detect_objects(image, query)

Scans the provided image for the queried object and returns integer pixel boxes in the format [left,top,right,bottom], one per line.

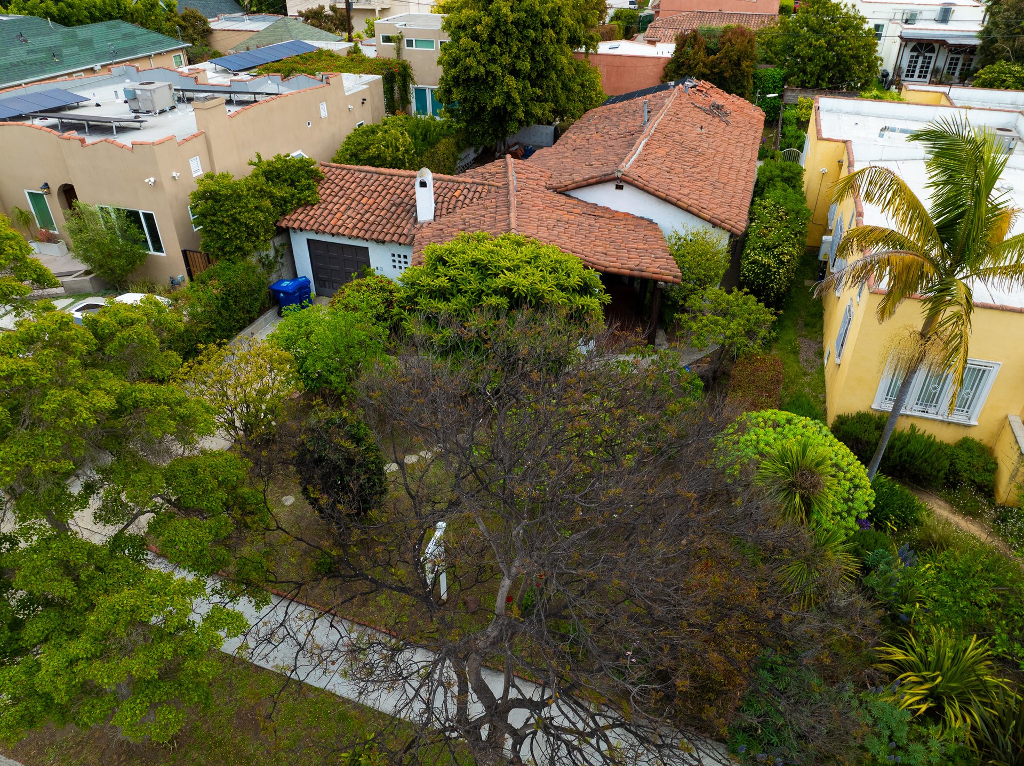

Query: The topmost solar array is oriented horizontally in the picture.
[209,40,315,75]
